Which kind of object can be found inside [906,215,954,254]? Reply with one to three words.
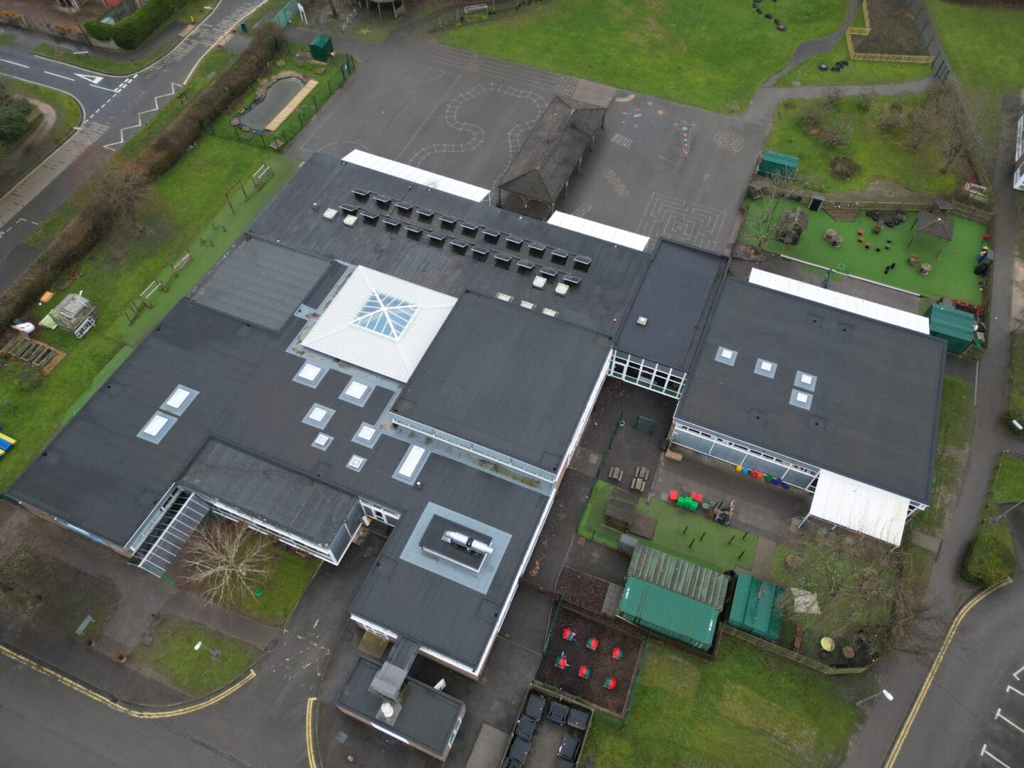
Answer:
gazebo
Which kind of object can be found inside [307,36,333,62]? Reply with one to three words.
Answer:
shed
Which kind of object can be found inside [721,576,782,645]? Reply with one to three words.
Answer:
shed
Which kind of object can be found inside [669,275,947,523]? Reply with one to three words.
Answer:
building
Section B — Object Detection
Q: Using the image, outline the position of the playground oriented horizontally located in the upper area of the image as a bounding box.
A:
[283,0,940,255]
